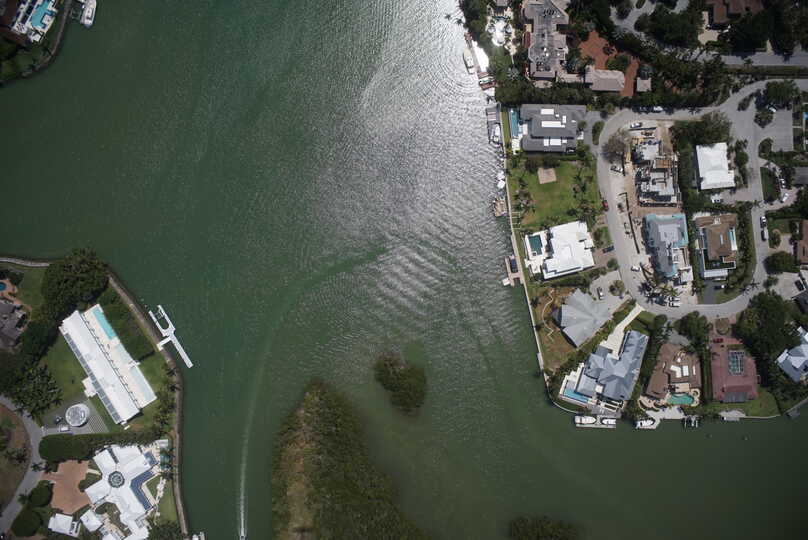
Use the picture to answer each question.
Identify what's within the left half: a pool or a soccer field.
pool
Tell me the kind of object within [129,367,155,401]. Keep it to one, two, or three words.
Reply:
swimming pool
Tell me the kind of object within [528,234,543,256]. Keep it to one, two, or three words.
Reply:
swimming pool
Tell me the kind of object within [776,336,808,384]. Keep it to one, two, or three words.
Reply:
house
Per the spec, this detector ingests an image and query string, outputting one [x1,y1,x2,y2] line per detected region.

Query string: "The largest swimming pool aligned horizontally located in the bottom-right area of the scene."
[666,392,695,407]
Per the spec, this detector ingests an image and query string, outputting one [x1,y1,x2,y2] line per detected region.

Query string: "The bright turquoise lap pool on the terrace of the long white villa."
[92,306,117,341]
